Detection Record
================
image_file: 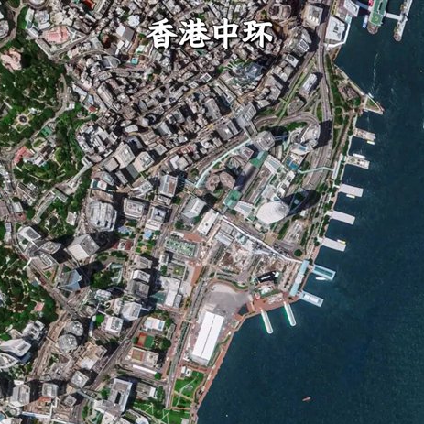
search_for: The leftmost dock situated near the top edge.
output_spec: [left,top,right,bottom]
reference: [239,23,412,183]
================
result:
[367,0,388,34]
